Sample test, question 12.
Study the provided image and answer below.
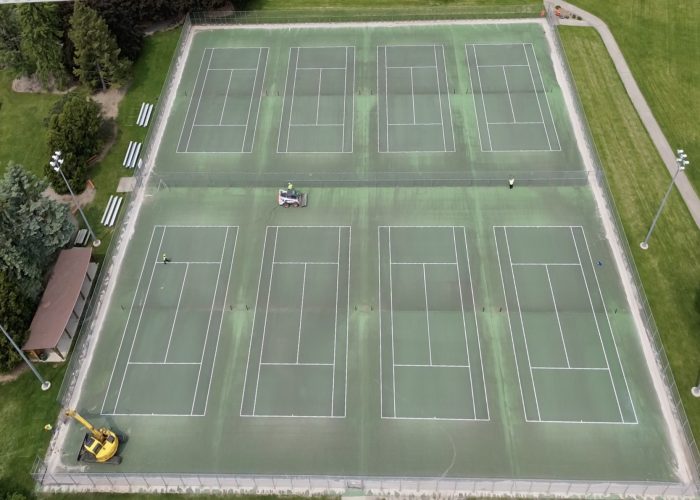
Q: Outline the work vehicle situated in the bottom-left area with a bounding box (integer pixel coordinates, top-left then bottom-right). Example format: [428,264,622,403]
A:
[64,410,123,465]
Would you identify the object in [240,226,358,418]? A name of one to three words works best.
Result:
tennis court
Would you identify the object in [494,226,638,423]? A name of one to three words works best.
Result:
tennis court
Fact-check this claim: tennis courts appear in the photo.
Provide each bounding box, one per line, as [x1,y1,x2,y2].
[371,226,489,421]
[465,43,561,150]
[101,225,238,416]
[494,226,638,423]
[371,44,457,151]
[176,47,269,153]
[276,46,360,152]
[240,226,358,418]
